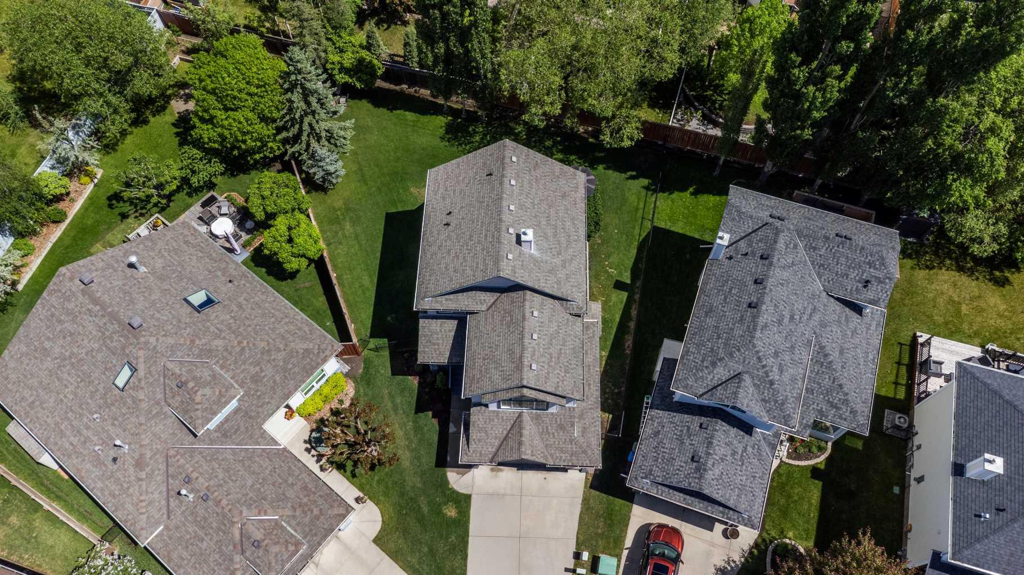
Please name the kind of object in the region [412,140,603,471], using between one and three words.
house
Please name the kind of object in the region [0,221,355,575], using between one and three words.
house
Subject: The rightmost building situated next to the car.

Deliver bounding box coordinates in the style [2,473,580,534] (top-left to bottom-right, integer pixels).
[625,182,904,535]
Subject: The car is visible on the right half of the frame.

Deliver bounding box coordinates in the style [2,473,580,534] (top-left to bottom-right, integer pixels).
[637,522,686,575]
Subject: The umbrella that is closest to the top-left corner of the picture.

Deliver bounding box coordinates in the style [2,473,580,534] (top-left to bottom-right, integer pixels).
[221,229,241,256]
